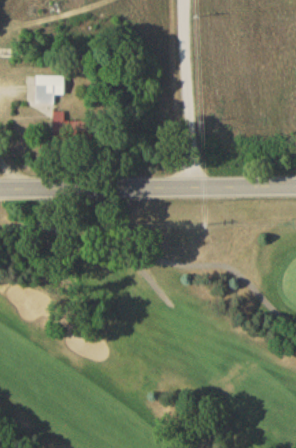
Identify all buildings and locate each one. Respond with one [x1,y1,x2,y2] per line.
[53,111,80,132]
[35,74,64,103]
